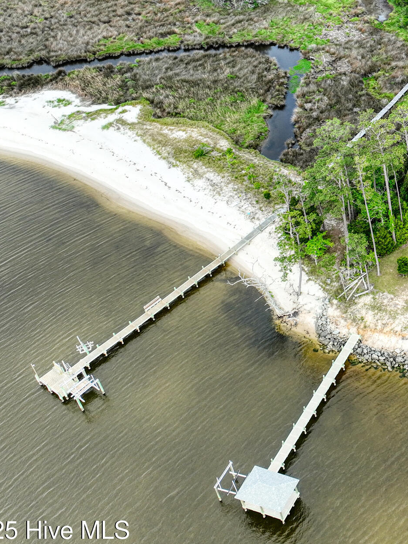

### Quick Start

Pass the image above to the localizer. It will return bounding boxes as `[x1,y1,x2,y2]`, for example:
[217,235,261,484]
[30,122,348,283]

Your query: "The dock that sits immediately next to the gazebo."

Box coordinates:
[276,333,357,466]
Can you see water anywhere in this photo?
Yes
